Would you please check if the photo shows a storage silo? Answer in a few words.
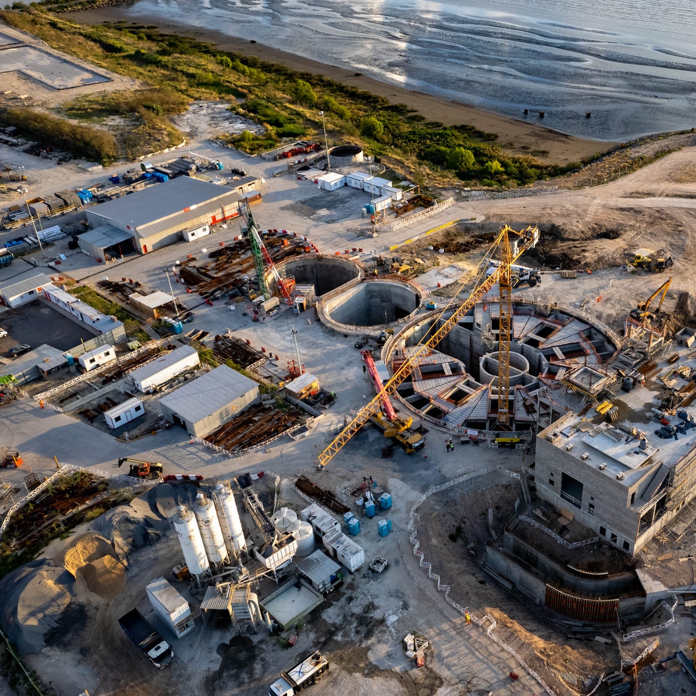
Yes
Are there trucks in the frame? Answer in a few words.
Yes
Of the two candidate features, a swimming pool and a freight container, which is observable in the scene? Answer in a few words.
freight container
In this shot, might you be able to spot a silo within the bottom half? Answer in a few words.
Yes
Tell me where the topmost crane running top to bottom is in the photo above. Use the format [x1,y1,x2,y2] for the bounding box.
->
[241,194,293,317]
